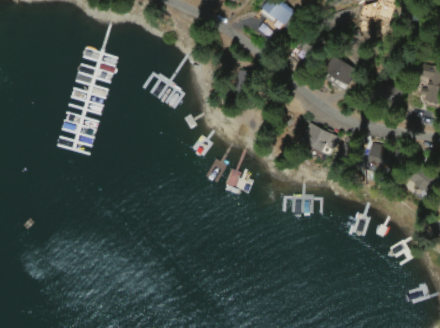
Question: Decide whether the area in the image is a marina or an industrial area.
marina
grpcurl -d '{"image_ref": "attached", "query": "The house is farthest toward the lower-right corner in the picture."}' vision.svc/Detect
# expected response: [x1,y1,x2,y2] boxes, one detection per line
[405,172,434,198]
